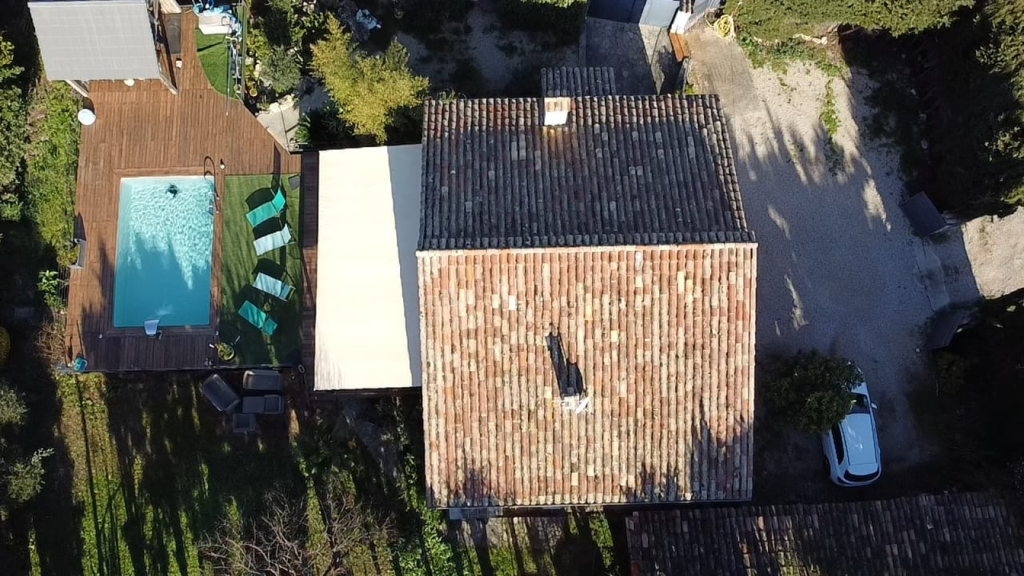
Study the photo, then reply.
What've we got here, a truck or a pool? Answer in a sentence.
It is a pool that can be seen here.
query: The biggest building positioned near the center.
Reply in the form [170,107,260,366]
[416,63,760,519]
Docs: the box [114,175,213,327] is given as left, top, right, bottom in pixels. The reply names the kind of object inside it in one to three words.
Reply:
swimming pool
